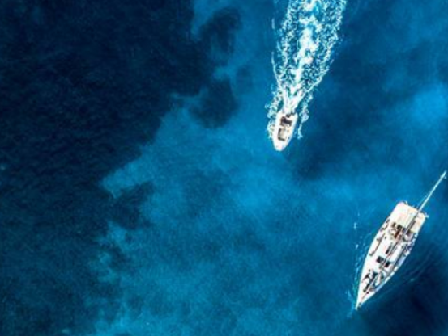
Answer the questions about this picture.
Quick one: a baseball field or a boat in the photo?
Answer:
boat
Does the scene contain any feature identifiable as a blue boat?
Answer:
No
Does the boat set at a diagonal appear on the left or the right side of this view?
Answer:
right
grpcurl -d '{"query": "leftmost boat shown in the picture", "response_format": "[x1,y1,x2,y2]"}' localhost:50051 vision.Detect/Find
[271,106,295,151]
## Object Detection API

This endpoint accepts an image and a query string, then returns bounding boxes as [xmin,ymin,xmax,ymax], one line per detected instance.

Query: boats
[271,106,295,151]
[352,164,439,310]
